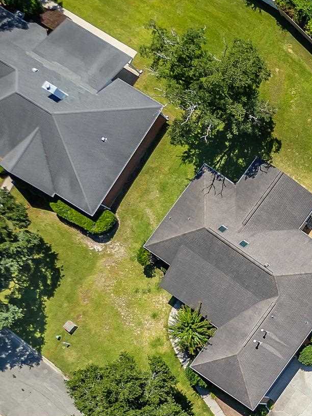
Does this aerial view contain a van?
No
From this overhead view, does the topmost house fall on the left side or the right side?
left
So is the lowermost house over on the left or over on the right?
right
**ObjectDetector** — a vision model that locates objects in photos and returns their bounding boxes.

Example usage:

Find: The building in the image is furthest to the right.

[144,156,312,411]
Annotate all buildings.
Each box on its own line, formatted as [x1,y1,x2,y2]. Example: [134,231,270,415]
[144,156,312,411]
[0,7,170,217]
